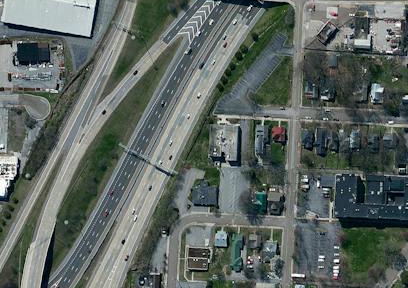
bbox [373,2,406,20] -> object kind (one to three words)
building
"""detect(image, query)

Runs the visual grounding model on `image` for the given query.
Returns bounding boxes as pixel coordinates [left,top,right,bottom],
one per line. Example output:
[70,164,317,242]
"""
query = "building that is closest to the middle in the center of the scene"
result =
[210,124,240,165]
